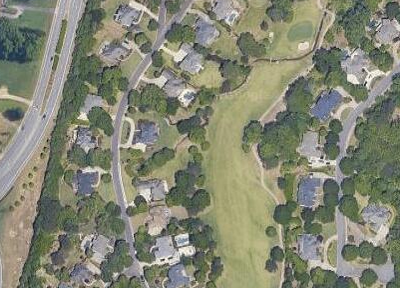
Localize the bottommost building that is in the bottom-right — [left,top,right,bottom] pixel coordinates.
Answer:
[299,234,321,259]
